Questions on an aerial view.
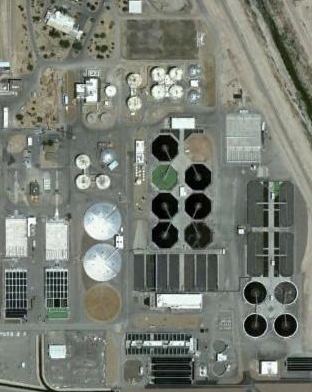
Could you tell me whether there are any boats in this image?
No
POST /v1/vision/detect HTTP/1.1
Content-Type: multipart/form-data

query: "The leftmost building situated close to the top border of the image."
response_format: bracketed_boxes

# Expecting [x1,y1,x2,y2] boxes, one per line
[46,10,83,40]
